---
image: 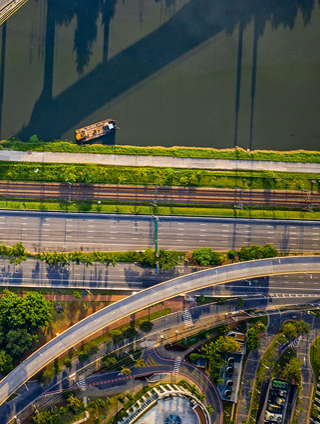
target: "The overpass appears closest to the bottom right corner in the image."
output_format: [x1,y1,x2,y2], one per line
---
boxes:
[0,254,320,408]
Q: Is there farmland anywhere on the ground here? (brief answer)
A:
No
